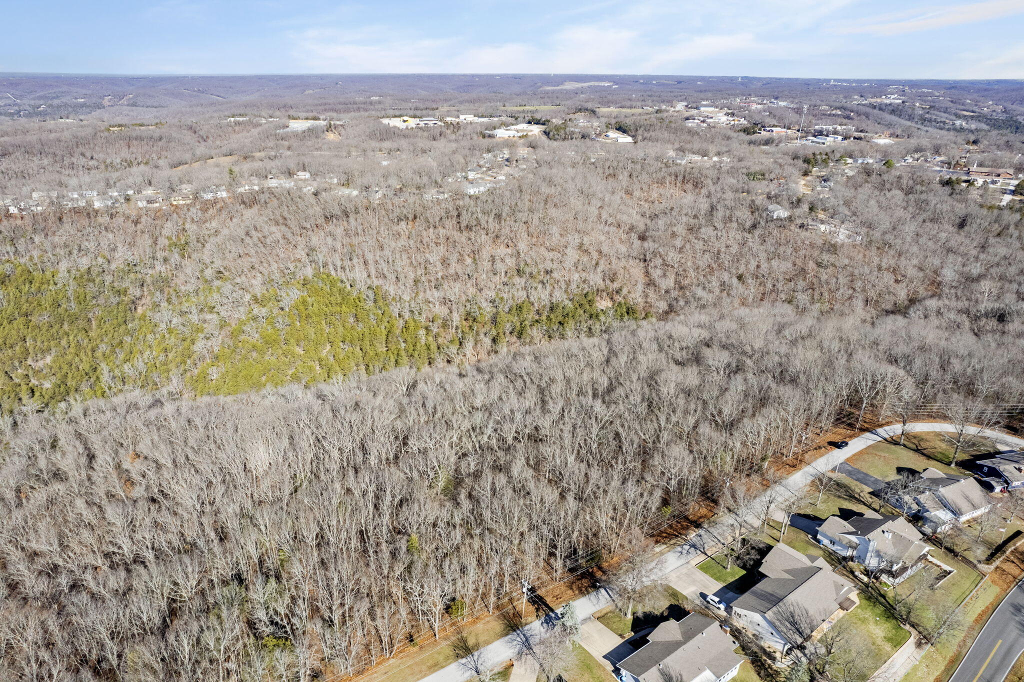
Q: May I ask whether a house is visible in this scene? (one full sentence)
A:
Yes, a house can be made out from above.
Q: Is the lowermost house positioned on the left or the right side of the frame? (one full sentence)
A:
The lowermost house appears in the right half of the scene.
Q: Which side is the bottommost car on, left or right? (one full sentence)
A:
The bottommost car sits on the right side.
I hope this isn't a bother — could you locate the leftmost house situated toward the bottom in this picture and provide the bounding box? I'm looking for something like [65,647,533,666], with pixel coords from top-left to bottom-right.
[613,612,751,682]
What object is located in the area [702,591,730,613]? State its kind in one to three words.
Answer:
car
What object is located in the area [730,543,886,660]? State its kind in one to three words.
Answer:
house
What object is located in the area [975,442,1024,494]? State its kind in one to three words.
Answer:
house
